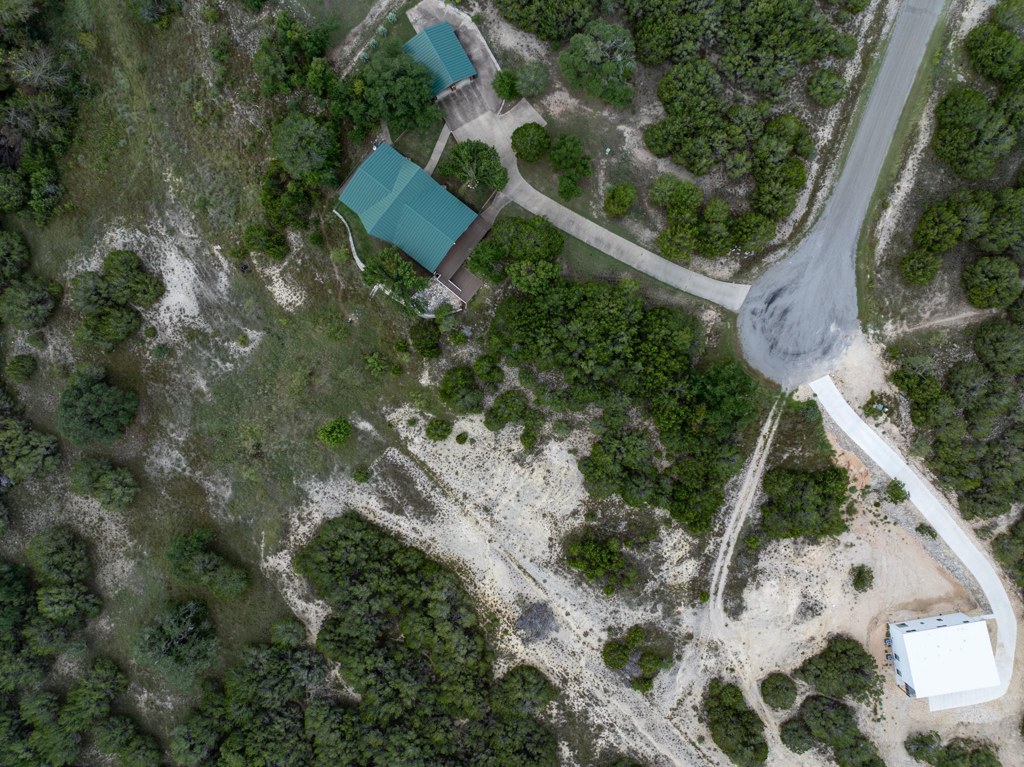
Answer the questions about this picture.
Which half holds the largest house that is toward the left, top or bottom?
top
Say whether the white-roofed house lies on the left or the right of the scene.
right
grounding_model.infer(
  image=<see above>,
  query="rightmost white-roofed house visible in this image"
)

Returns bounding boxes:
[888,609,999,701]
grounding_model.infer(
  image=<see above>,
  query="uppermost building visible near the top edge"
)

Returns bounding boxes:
[402,21,478,104]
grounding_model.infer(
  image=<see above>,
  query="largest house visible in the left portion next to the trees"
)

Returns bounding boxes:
[336,141,478,273]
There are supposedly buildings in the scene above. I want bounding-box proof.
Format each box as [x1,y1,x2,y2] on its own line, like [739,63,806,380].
[888,609,999,701]
[336,141,478,273]
[402,21,478,104]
